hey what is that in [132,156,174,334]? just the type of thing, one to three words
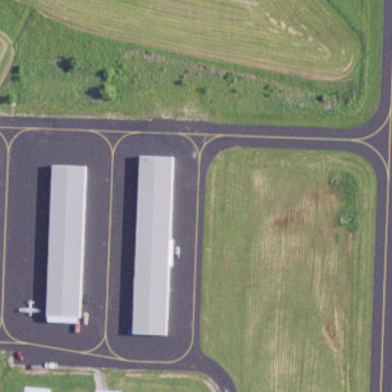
hangar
